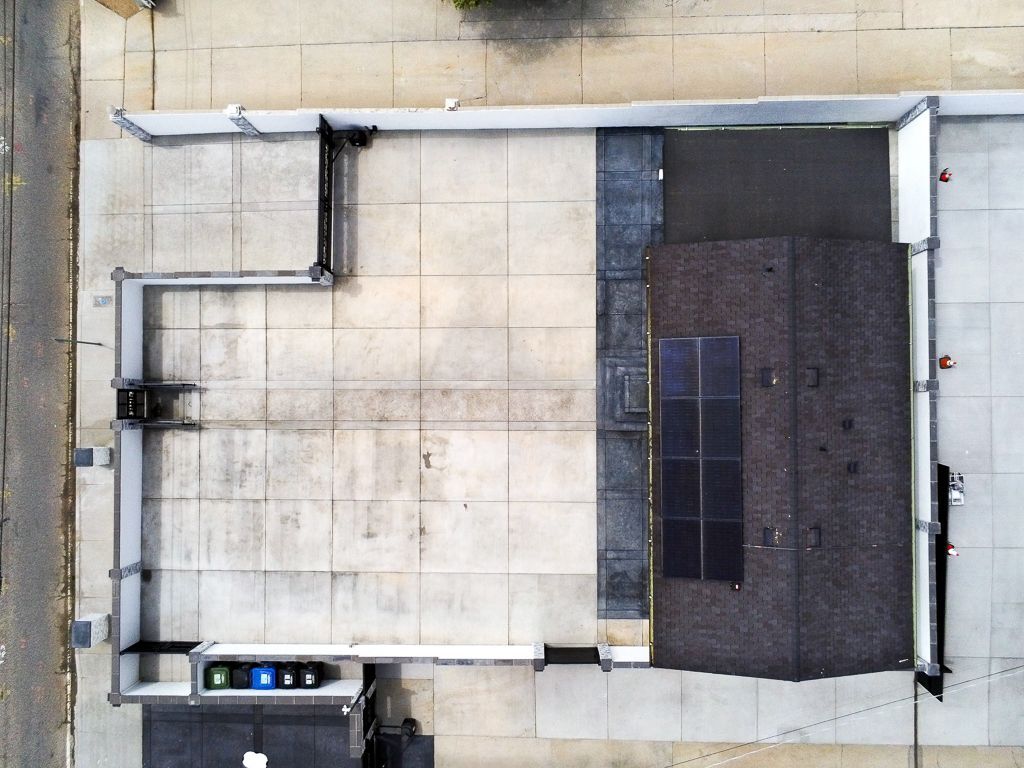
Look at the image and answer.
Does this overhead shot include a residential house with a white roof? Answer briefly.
No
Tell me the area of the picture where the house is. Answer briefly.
right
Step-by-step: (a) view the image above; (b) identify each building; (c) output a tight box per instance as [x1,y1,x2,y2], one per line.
[648,236,915,683]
